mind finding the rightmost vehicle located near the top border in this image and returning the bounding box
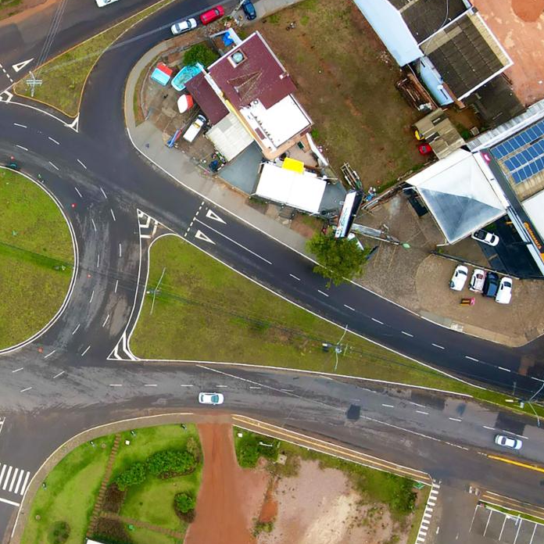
[242,0,257,20]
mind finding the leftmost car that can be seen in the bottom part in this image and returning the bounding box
[199,393,223,405]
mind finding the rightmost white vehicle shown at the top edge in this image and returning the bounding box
[170,18,198,33]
